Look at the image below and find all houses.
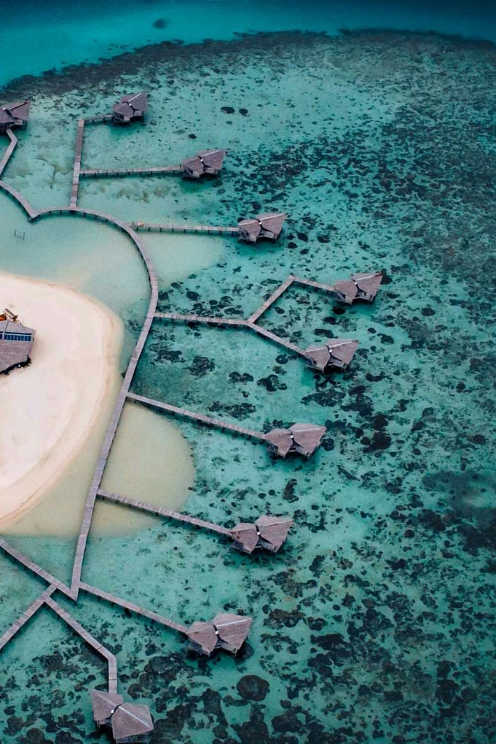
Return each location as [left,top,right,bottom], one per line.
[182,609,252,663]
[256,421,326,469]
[110,90,152,130]
[86,691,153,744]
[225,513,293,563]
[0,102,32,142]
[233,214,287,250]
[325,273,382,315]
[296,337,359,383]
[178,151,226,187]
